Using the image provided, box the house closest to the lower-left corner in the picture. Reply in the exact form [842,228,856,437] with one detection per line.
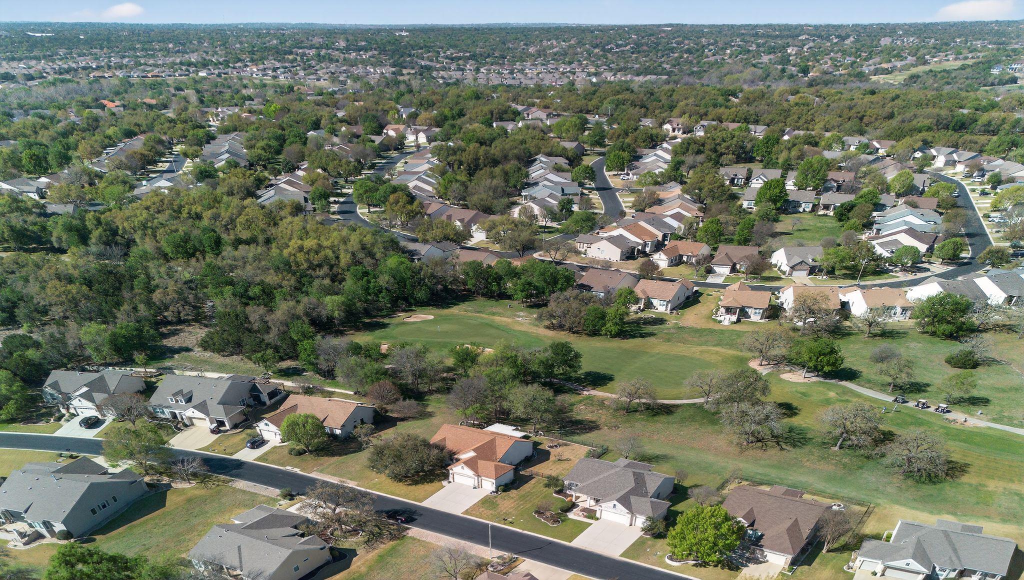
[0,455,153,535]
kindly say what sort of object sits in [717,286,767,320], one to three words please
house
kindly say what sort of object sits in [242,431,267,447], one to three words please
car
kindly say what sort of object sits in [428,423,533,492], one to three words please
house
